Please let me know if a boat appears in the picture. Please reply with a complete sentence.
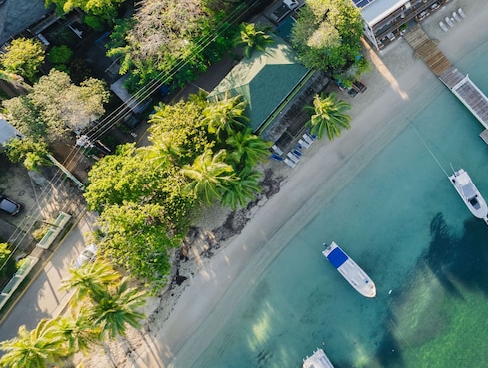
Yes, the picture does show a boat.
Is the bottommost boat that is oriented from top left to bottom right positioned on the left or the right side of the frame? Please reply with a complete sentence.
You can find the bottommost boat that is oriented from top left to bottom right on the right side of the picture.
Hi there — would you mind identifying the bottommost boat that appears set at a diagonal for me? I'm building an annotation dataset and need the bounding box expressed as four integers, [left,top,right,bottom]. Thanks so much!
[318,242,379,302]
